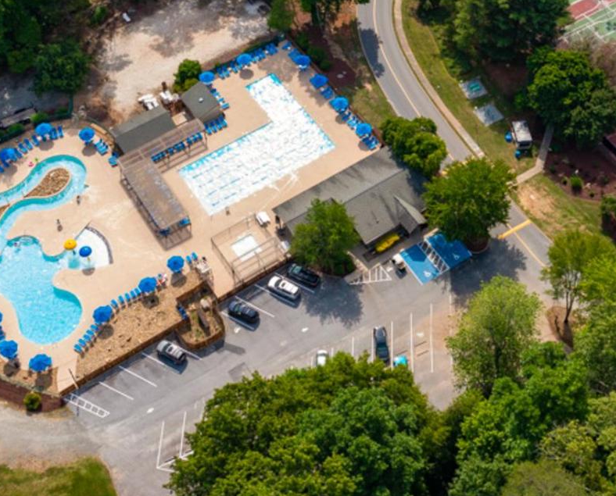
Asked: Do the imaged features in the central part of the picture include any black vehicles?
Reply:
Yes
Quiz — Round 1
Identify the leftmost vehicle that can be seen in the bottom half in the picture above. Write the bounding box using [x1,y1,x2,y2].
[156,341,187,365]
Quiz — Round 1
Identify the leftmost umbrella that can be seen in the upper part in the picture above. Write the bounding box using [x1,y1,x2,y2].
[0,150,16,165]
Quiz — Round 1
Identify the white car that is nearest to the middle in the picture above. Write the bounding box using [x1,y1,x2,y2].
[268,277,301,298]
